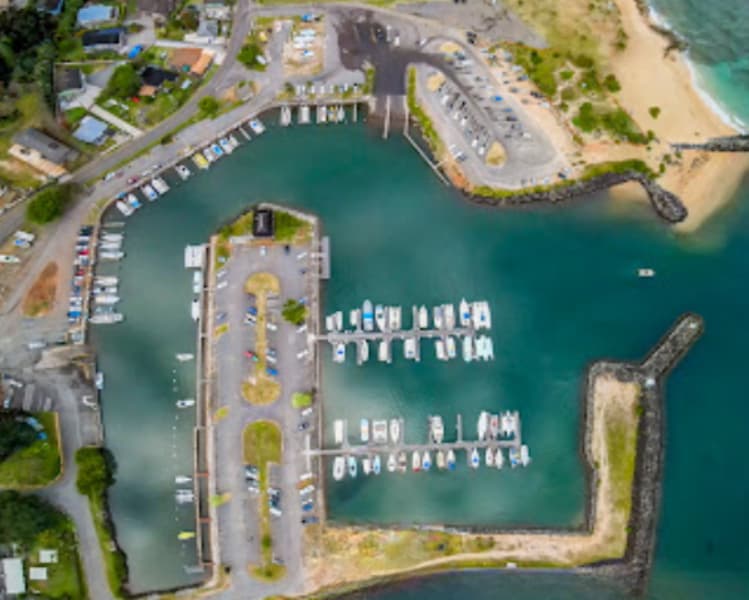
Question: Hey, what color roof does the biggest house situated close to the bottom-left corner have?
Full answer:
The roof of the biggest house situated close to the bottom-left corner is white.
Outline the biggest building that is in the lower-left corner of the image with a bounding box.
[2,555,28,596]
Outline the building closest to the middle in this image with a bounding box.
[253,209,274,236]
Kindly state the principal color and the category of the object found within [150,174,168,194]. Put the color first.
white boat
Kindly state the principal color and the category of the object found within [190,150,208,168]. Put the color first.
yellow boat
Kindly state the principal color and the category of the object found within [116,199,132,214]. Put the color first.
white boat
